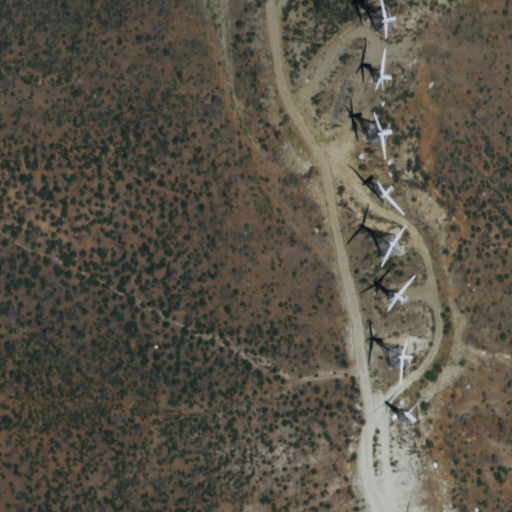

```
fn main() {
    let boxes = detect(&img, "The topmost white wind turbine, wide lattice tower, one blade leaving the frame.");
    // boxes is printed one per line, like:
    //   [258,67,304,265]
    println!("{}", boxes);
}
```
[370,0,397,40]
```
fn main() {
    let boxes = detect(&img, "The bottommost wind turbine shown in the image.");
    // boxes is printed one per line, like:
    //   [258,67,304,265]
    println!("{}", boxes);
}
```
[388,394,426,428]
